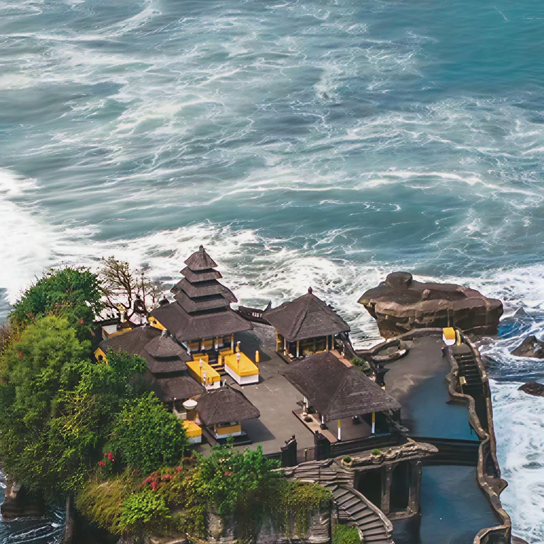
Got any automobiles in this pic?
No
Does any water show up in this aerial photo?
Yes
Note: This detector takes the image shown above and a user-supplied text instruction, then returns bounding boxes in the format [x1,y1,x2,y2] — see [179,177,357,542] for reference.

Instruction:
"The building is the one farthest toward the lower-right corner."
[278,349,405,459]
